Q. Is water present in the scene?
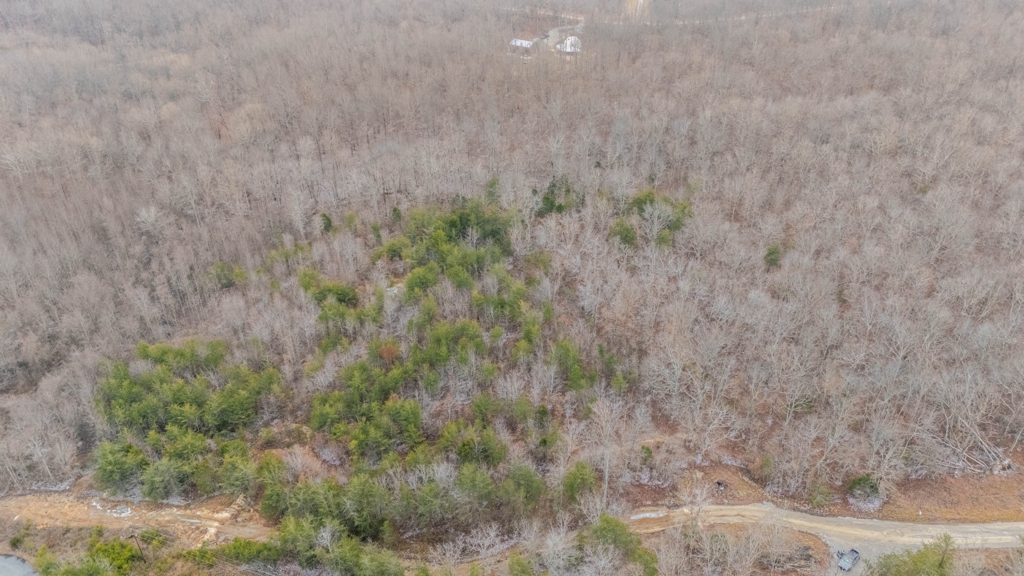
No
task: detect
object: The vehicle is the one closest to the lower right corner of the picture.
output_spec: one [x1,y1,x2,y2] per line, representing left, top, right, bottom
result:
[839,548,861,573]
